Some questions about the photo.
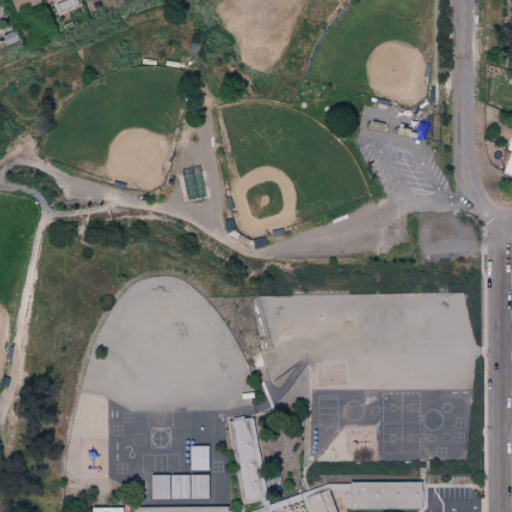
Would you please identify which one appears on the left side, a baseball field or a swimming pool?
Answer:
baseball field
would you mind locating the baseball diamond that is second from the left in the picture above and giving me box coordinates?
[43,67,190,193]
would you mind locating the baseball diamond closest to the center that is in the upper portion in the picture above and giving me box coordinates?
[218,102,369,238]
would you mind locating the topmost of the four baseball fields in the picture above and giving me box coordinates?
[306,0,434,110]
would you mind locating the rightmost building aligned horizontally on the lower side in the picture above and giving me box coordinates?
[352,482,423,510]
